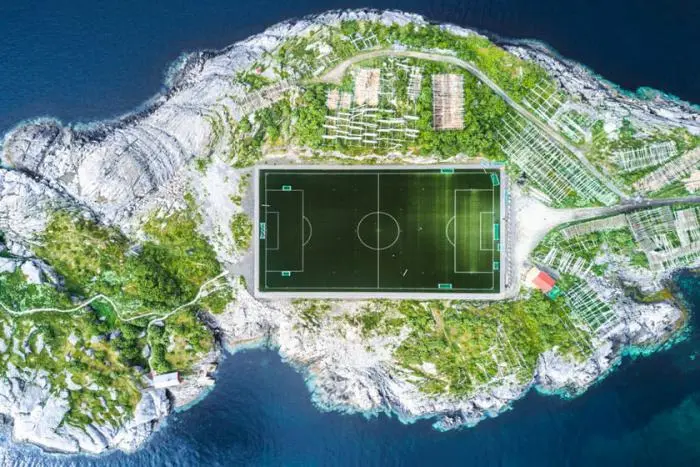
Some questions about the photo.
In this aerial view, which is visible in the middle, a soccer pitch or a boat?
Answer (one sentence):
What appears in the middle is a soccer pitch.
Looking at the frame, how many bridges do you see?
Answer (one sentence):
I count no bridges.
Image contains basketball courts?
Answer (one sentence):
No, there isn't any basketball court down there.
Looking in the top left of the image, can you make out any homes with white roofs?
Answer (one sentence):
No, in the top left of the image there is no home with a white roof.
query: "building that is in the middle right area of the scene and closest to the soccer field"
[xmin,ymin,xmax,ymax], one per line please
[523,267,554,293]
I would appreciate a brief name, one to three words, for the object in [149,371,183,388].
house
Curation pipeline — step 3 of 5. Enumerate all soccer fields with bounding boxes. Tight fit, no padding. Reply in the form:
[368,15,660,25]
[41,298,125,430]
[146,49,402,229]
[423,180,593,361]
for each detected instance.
[259,169,500,293]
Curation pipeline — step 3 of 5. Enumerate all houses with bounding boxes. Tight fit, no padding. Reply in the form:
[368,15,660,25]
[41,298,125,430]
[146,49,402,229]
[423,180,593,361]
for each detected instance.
[523,267,554,293]
[149,371,183,388]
